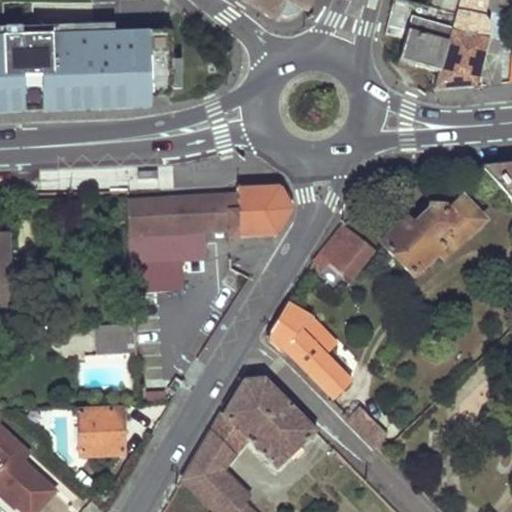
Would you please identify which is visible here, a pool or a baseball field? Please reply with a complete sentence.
Visible in the photo is a pool.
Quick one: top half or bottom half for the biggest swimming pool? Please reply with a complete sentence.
The biggest swimming pool sits in the bottom half of the picture.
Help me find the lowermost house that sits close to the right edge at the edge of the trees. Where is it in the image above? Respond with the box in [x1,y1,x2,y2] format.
[388,192,492,279]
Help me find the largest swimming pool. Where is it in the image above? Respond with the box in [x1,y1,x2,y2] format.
[82,364,128,390]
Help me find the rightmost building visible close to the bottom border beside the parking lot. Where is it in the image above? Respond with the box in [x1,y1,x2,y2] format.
[182,376,318,512]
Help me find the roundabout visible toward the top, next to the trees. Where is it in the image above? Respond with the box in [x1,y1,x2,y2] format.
[238,31,390,187]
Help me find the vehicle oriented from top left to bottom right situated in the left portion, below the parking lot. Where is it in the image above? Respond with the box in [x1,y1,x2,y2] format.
[130,408,151,428]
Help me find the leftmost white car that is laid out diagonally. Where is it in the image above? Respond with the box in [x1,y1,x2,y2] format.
[168,442,186,465]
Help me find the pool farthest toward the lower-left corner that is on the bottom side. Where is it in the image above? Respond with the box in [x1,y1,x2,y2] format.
[53,416,70,462]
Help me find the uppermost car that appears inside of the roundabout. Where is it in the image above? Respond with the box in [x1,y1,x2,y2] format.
[278,63,298,75]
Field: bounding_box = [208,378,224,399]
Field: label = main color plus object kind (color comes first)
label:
white car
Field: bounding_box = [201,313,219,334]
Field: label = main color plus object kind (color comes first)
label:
white car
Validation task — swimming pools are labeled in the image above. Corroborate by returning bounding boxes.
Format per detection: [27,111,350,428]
[53,416,70,462]
[82,364,128,390]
